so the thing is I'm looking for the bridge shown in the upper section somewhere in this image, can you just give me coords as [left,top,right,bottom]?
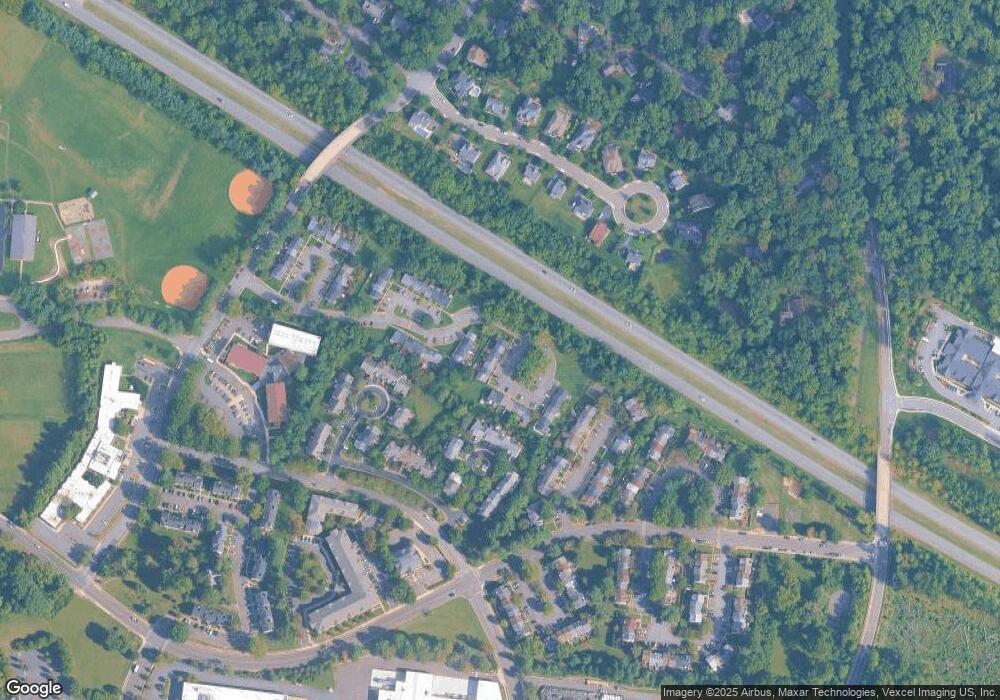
[295,113,375,192]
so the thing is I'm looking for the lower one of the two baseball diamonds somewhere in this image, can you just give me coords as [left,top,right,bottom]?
[162,266,208,310]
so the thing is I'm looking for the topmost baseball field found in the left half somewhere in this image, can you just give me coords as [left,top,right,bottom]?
[229,169,272,215]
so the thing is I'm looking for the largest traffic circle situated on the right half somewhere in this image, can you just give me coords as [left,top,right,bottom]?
[613,180,668,234]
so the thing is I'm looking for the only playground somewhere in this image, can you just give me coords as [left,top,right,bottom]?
[58,197,94,226]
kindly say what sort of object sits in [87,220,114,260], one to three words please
sports court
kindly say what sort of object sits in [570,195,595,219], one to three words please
house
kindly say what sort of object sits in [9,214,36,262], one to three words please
building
